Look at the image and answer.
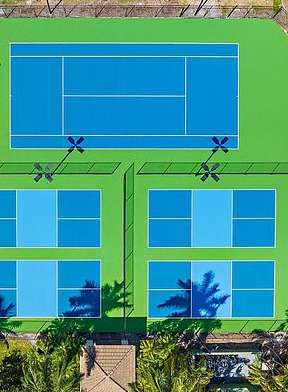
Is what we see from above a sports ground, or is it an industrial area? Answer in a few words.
sports ground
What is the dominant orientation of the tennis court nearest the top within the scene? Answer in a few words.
from left to right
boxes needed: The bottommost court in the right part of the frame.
[148,260,276,318]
